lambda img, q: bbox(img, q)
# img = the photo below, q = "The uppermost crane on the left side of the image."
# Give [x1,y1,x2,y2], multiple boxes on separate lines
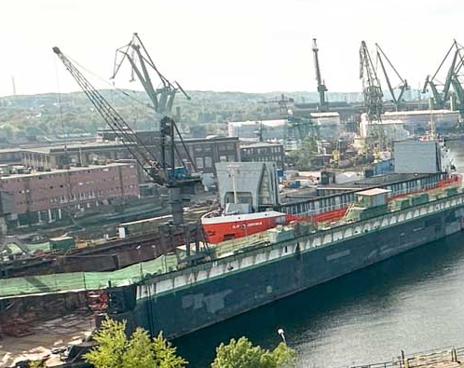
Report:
[112,31,193,126]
